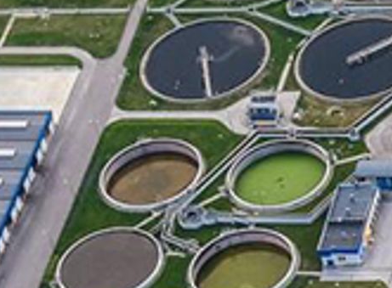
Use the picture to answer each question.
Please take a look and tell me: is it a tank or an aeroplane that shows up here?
tank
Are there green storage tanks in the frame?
Yes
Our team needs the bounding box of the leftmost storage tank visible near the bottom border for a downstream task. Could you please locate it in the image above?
[56,225,165,288]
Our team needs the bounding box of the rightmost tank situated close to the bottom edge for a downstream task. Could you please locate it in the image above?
[188,228,299,288]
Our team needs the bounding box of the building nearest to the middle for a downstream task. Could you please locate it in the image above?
[247,93,283,122]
